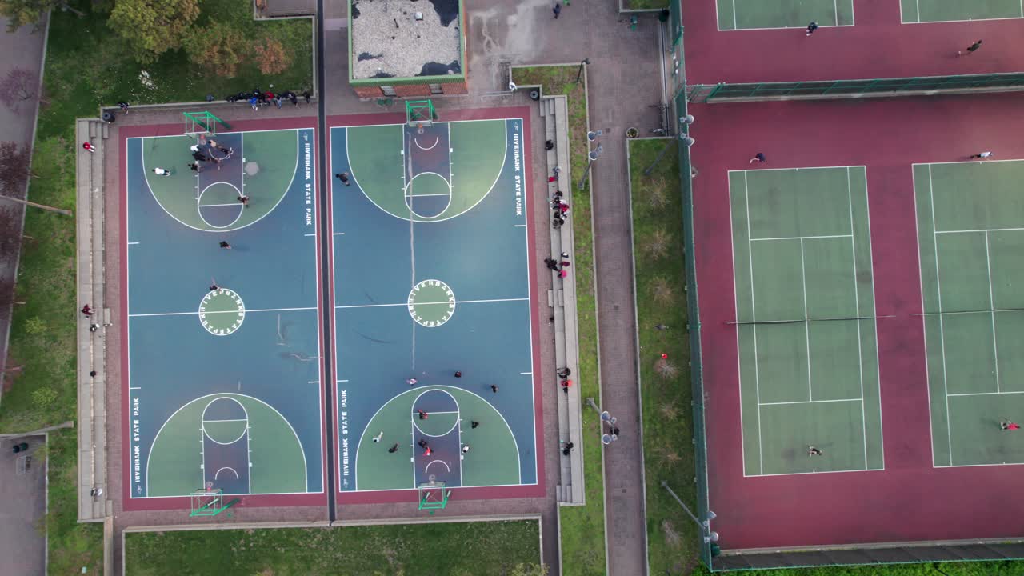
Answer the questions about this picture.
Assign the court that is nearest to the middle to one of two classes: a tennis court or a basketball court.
basketball court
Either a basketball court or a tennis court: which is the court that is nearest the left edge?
basketball court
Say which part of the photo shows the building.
top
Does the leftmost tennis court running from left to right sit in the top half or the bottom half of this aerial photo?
top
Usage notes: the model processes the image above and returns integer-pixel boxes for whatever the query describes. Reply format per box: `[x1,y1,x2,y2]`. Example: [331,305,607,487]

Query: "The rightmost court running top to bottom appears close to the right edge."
[913,160,1024,467]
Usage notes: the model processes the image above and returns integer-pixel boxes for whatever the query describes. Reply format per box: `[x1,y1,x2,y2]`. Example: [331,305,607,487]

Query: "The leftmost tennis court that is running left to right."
[716,0,855,31]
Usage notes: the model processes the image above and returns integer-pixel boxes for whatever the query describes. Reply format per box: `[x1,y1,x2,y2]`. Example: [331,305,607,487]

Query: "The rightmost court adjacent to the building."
[328,107,545,504]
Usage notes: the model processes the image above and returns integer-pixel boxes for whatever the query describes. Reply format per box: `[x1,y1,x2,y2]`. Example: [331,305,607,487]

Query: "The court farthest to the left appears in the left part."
[119,118,328,510]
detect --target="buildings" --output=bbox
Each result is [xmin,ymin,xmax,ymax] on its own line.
[348,0,467,99]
